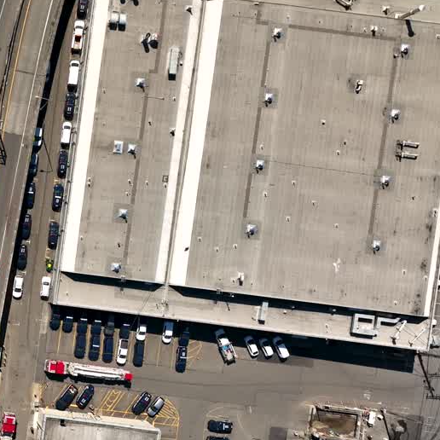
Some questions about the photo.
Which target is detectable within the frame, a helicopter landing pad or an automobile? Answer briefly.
automobile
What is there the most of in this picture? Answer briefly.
buildings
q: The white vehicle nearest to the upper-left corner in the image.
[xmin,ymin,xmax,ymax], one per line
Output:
[69,20,85,55]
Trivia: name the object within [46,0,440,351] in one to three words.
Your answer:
warehouse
